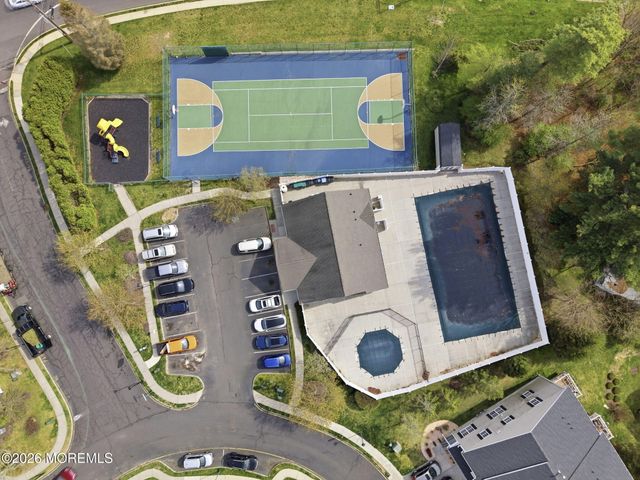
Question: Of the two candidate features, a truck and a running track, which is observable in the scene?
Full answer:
It is a truck that can be seen here.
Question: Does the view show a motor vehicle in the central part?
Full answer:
Yes, a motor vehicle is visible in the central part.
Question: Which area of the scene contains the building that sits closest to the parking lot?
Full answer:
The building that sits closest to the parking lot appears toward the center of the photo.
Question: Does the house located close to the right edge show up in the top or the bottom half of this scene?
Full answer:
It is in the bottom half that the house located close to the right edge appears.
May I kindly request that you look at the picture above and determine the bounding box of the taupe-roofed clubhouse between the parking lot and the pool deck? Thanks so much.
[274,189,389,304]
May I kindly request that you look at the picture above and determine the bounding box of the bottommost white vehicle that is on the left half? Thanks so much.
[184,452,214,469]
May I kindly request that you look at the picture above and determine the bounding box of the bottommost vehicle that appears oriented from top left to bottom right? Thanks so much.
[11,306,54,359]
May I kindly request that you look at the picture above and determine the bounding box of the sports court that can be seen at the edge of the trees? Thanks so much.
[169,50,414,178]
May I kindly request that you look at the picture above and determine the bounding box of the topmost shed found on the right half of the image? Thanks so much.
[436,124,461,170]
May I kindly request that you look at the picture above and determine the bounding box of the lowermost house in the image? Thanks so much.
[439,366,636,480]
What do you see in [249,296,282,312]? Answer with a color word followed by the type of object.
white car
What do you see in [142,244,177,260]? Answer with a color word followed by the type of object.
white car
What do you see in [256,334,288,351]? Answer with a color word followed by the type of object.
blue car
